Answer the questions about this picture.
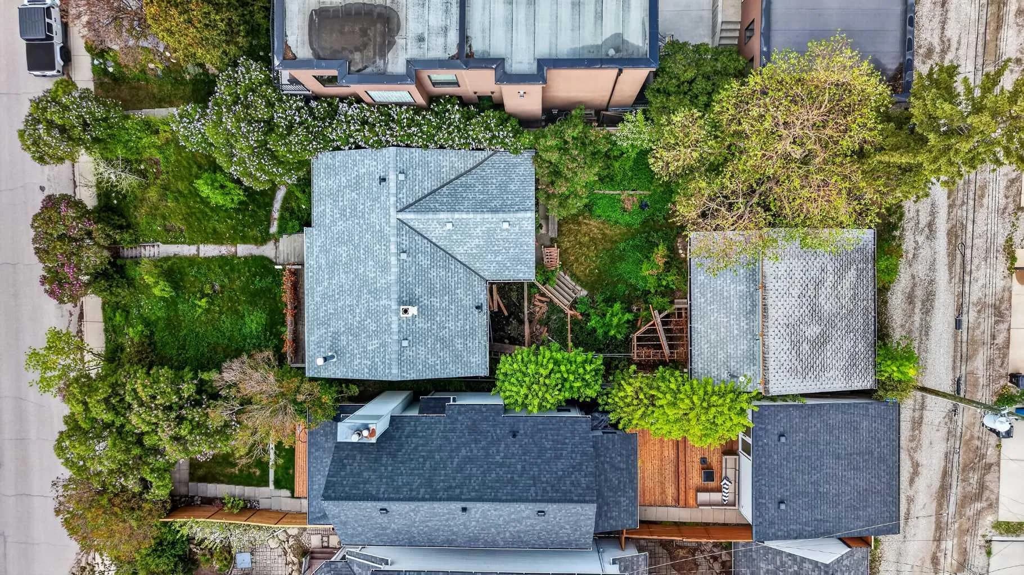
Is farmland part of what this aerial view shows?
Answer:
No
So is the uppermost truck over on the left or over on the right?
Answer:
left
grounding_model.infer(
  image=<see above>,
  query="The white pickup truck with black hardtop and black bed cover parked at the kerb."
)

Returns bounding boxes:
[16,0,73,81]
